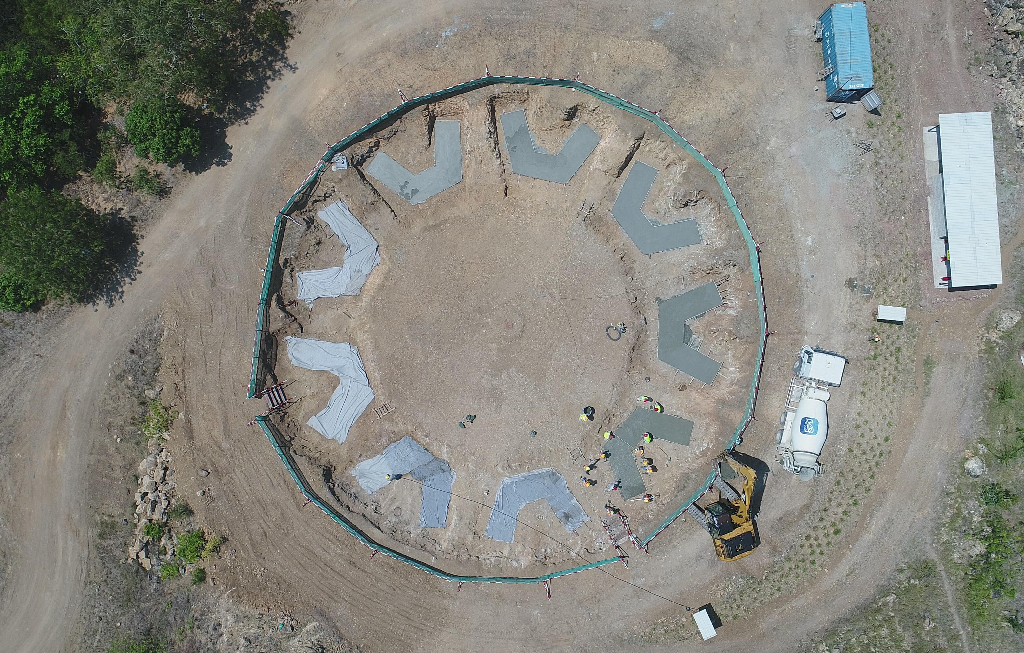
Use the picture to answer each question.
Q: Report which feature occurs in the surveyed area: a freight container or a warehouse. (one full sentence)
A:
This aerial view contains a freight container.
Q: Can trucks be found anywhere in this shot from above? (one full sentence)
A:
Yes, a truck is visible in the scene.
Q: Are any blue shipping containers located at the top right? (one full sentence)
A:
Yes, looking at the top right, one can make out a blue shipping container.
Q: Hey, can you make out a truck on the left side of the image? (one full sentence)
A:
No, the scene shows no truck on the left side of the image.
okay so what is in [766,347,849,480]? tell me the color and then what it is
white truck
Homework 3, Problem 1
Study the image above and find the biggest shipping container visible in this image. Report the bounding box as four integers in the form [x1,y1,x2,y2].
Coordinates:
[817,1,881,108]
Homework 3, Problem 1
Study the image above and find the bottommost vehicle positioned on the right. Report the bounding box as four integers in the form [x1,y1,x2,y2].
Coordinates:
[687,454,761,563]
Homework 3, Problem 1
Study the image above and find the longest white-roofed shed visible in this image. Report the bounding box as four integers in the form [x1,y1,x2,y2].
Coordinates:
[919,110,1004,288]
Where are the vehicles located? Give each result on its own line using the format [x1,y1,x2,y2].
[687,454,761,563]
[766,347,849,480]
